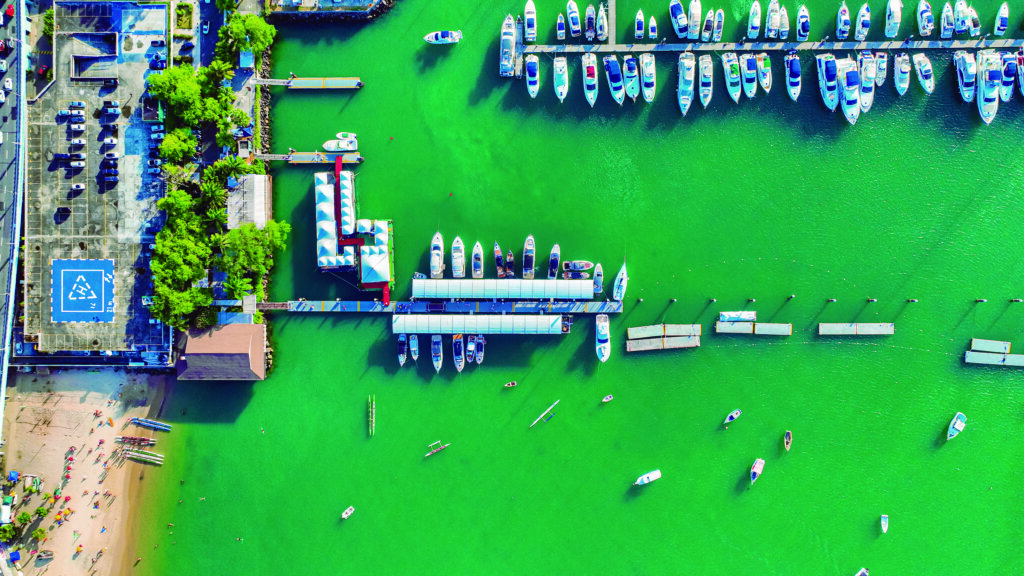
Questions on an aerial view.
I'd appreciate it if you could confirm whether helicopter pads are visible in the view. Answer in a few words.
Yes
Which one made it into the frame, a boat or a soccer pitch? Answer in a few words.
boat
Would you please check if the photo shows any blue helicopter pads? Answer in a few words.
Yes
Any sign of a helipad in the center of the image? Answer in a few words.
No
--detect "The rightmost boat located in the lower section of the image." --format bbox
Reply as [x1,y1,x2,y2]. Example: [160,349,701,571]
[947,413,965,438]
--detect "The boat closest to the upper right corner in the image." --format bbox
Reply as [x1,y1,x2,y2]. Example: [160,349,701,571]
[993,2,1010,38]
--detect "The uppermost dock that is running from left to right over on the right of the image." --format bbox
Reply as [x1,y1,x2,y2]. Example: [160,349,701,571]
[516,21,1024,79]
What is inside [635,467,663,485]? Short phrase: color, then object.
white boat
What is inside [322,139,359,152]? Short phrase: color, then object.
white boat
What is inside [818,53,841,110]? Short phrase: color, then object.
blue boat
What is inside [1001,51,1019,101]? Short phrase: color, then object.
blue boat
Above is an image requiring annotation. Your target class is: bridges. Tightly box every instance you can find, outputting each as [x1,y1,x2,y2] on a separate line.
[0,0,30,487]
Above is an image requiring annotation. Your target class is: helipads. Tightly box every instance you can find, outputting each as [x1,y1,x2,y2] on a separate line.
[51,260,115,322]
